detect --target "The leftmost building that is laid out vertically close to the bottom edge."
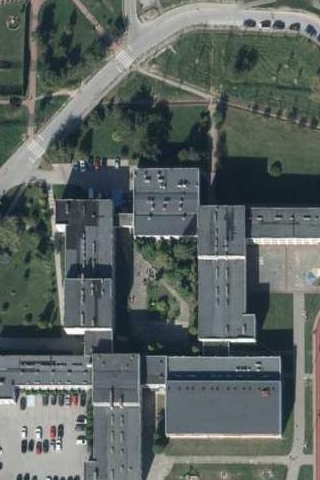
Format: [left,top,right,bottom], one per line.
[84,353,141,480]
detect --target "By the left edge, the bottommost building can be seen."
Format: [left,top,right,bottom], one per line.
[0,356,92,402]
